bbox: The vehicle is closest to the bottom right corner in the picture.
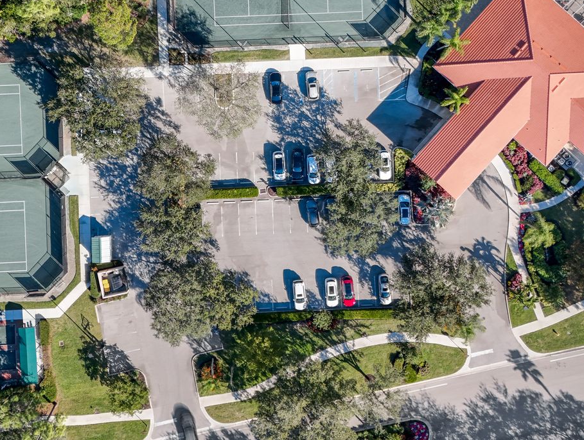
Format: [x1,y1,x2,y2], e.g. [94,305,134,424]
[379,274,392,305]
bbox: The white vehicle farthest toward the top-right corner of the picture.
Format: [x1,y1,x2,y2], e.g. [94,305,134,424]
[379,150,392,181]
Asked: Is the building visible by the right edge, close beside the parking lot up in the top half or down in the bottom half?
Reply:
top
